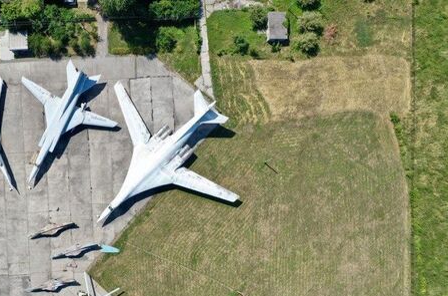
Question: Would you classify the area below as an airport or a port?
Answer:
airport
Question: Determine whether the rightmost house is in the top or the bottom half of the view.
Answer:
top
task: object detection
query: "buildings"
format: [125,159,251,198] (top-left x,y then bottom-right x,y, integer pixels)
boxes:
[10,33,28,52]
[266,12,287,41]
